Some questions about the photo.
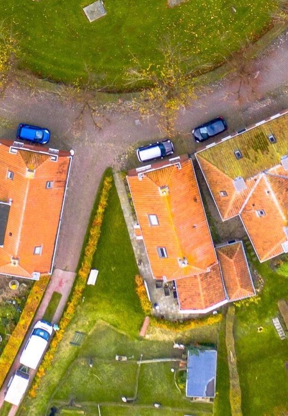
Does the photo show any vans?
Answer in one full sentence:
Yes, a van is visible in the scene.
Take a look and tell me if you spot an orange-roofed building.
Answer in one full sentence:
Yes, there's an orange-roofed building here.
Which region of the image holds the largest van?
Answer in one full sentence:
Look in the bottom left portion of the view to spot the largest van.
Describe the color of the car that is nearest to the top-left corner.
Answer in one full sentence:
The car that is nearest to the top-left corner is blue.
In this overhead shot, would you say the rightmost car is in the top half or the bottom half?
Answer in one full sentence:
The rightmost car is in the top half of the image.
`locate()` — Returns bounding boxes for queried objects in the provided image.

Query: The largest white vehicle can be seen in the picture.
[18,319,56,373]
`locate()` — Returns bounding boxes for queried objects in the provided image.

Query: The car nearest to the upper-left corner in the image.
[17,122,51,144]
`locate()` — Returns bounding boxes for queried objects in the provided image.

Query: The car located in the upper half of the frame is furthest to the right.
[192,116,228,140]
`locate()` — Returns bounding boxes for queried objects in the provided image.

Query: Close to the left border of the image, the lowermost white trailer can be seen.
[4,368,31,409]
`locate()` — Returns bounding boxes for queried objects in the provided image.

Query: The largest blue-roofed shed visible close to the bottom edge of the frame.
[184,345,218,398]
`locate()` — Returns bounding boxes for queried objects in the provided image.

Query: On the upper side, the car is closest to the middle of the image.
[137,140,175,160]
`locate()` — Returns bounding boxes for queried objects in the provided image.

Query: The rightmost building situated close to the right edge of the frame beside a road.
[194,109,288,263]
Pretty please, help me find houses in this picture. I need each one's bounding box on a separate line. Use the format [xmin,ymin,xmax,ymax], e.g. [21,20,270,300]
[194,109,288,263]
[126,157,256,314]
[0,139,73,279]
